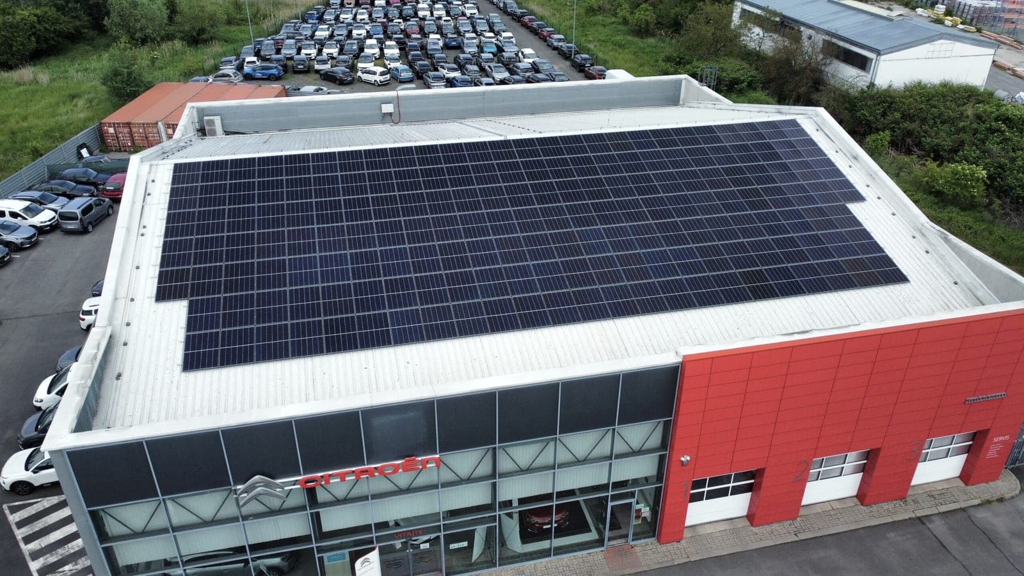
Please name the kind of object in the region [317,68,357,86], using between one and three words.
car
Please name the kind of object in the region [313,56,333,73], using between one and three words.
car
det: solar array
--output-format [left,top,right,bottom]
[150,118,908,371]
